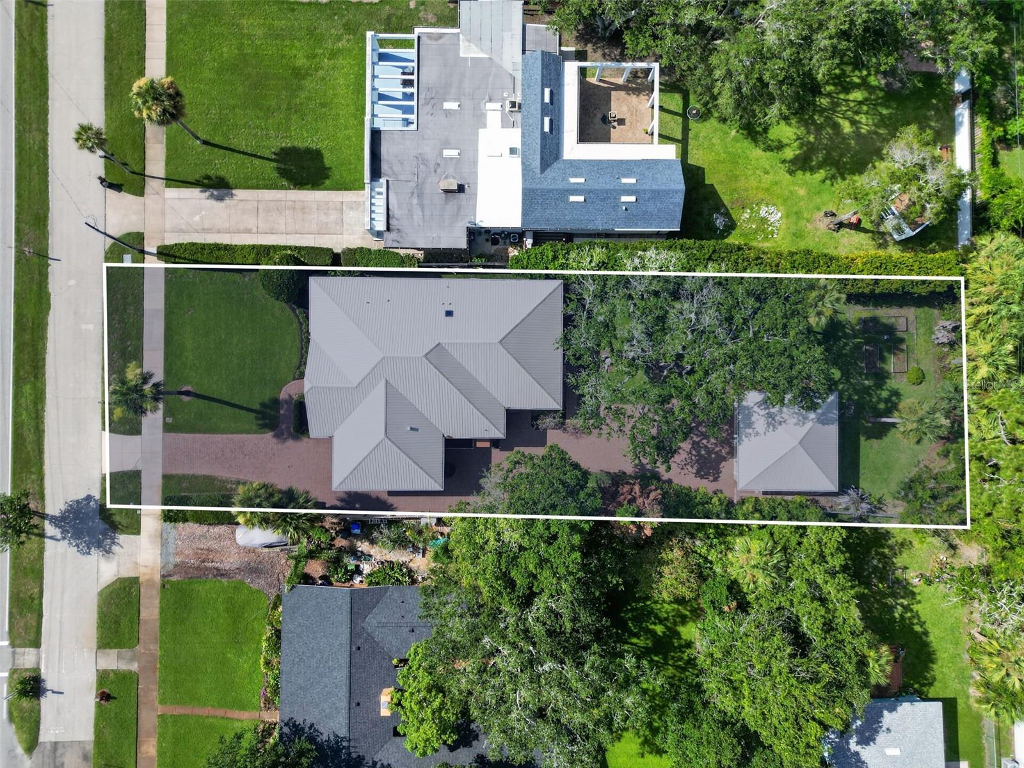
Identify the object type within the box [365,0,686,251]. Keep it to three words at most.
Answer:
house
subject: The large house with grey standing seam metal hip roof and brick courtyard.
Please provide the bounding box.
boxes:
[305,275,564,492]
